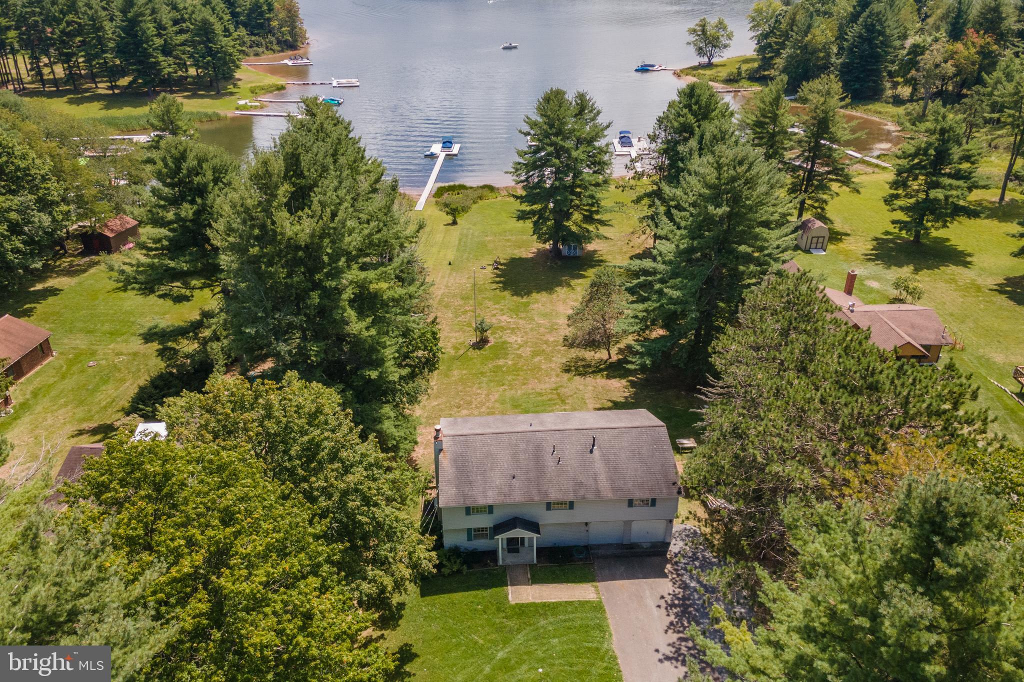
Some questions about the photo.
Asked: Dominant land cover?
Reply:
trees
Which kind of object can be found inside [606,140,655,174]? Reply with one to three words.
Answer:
pier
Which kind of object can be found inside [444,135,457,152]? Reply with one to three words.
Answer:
boat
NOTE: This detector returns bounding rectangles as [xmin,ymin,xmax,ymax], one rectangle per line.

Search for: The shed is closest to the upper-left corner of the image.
[69,215,123,255]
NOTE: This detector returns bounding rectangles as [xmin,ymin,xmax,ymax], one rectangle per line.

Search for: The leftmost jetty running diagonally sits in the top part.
[420,144,465,198]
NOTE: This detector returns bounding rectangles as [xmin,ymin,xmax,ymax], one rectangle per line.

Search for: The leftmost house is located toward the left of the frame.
[0,318,59,403]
